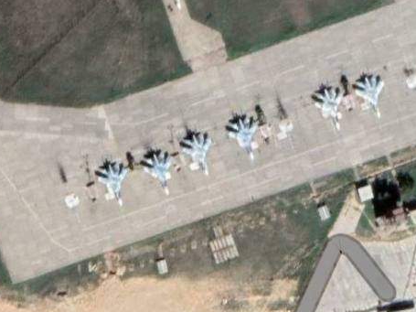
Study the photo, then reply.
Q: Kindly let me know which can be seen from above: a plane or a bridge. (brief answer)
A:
plane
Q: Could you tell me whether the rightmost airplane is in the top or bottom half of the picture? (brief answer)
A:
top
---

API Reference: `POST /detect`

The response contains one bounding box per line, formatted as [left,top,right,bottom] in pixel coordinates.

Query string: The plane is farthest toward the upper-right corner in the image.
[355,73,384,118]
